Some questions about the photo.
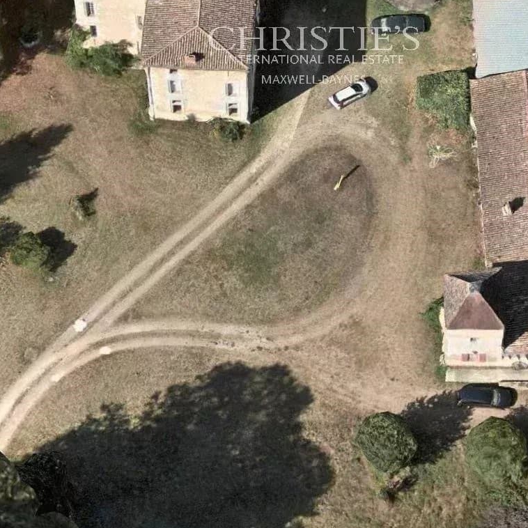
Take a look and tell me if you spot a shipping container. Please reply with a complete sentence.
No, the frame has no shipping container in it.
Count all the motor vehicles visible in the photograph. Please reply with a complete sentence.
My tally gives 3 motor vehicles in this view.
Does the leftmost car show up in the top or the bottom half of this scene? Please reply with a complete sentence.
The leftmost car is in the top half of the image.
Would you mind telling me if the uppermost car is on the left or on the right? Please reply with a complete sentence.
The uppermost car sits on the right side.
